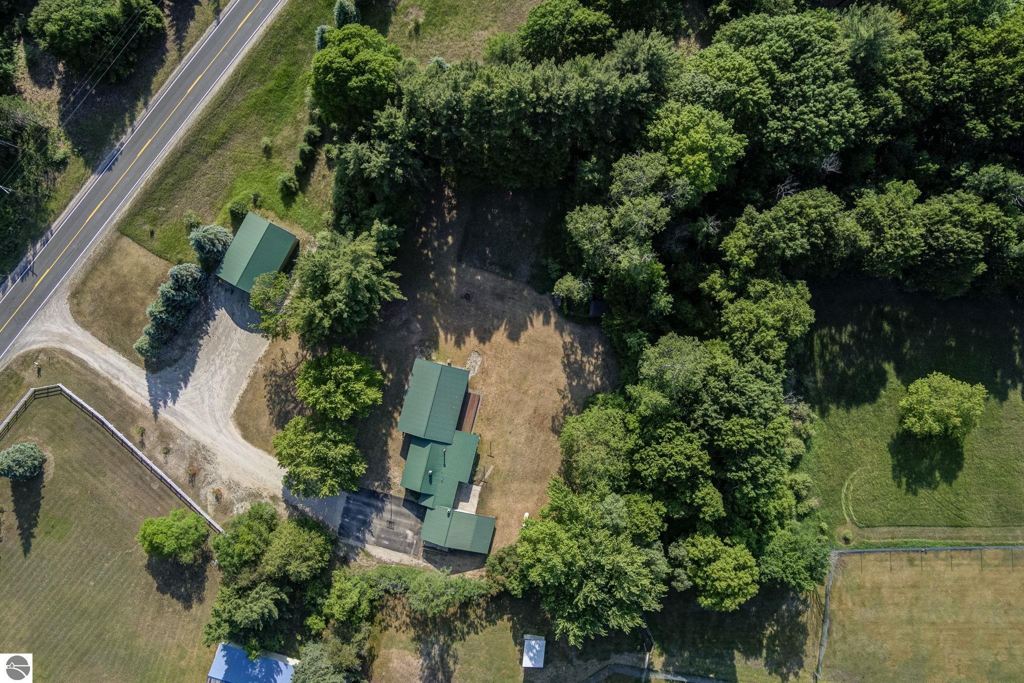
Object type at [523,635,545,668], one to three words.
shed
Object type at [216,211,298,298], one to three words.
shed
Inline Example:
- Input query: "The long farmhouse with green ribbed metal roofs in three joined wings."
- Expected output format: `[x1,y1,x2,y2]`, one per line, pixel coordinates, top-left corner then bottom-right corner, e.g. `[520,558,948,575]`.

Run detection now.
[398,358,496,553]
